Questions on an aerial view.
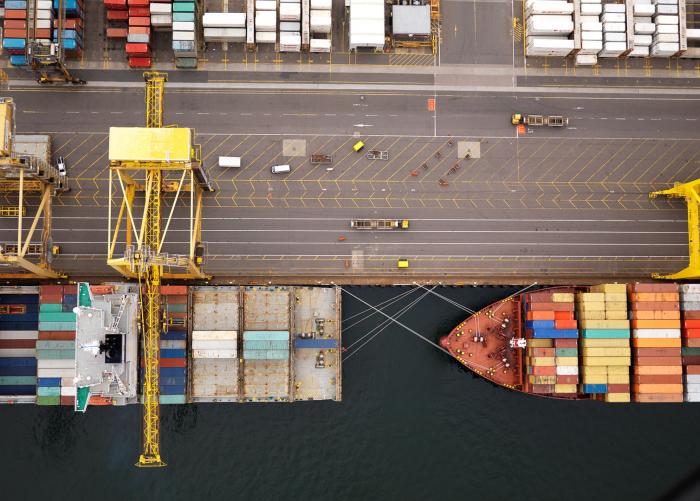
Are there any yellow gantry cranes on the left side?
Yes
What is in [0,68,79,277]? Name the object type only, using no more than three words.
container crane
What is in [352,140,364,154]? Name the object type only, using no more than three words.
vehicle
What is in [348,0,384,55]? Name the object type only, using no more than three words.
shed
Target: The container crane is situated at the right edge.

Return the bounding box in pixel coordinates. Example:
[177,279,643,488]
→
[647,176,700,278]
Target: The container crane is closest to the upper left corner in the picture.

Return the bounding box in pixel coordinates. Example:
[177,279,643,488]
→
[21,0,88,81]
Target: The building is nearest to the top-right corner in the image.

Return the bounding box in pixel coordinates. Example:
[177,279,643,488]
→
[388,4,431,46]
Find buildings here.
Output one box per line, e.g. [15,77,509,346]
[348,0,384,55]
[388,4,431,46]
